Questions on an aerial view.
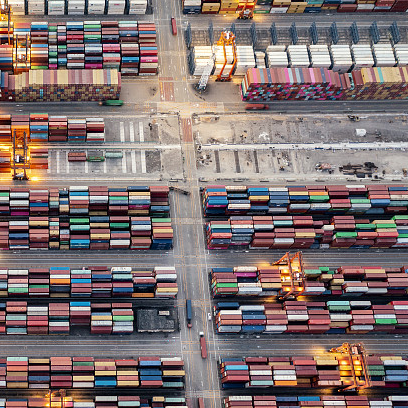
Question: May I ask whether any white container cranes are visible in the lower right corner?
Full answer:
No, in the lower right corner there is no white container crane.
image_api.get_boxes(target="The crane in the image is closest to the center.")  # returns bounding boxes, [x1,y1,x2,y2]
[271,252,307,302]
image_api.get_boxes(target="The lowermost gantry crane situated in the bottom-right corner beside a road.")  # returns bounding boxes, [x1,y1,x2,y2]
[331,342,374,395]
